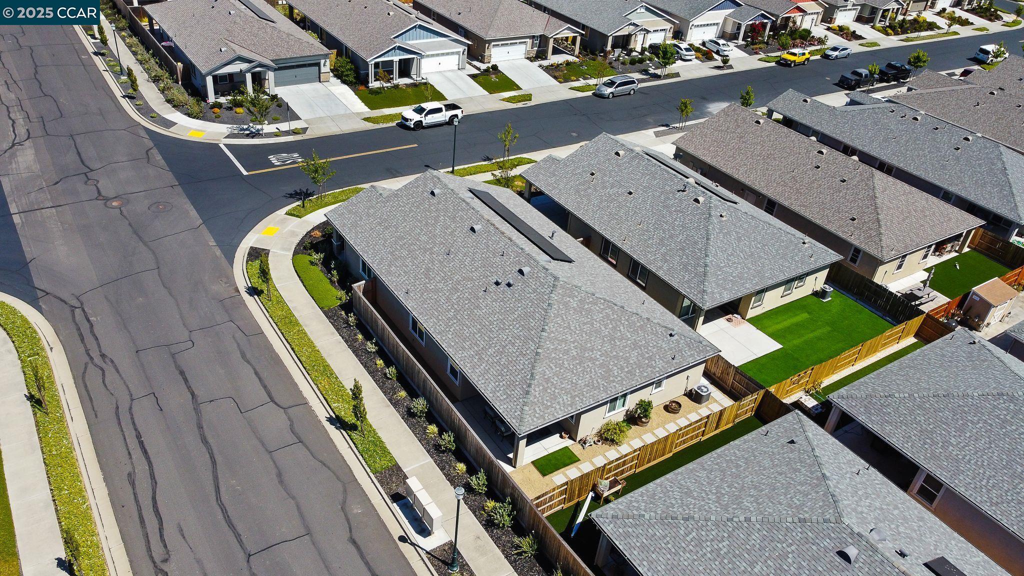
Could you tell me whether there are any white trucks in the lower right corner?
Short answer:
No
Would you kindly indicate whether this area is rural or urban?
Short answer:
urban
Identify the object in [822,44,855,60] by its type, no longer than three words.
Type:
car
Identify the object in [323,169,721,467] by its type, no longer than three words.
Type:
house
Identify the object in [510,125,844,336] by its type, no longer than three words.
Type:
house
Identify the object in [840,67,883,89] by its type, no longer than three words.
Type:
truck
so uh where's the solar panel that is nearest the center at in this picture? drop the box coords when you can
[475,185,584,265]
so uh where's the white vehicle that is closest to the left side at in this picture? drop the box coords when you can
[399,101,462,131]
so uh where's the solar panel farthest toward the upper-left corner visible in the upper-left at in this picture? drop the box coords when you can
[233,0,288,26]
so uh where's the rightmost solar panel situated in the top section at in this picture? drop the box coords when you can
[645,148,743,204]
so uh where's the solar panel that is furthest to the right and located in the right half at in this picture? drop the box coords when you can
[924,555,967,576]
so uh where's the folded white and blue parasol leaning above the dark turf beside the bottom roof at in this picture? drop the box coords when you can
[571,483,593,537]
